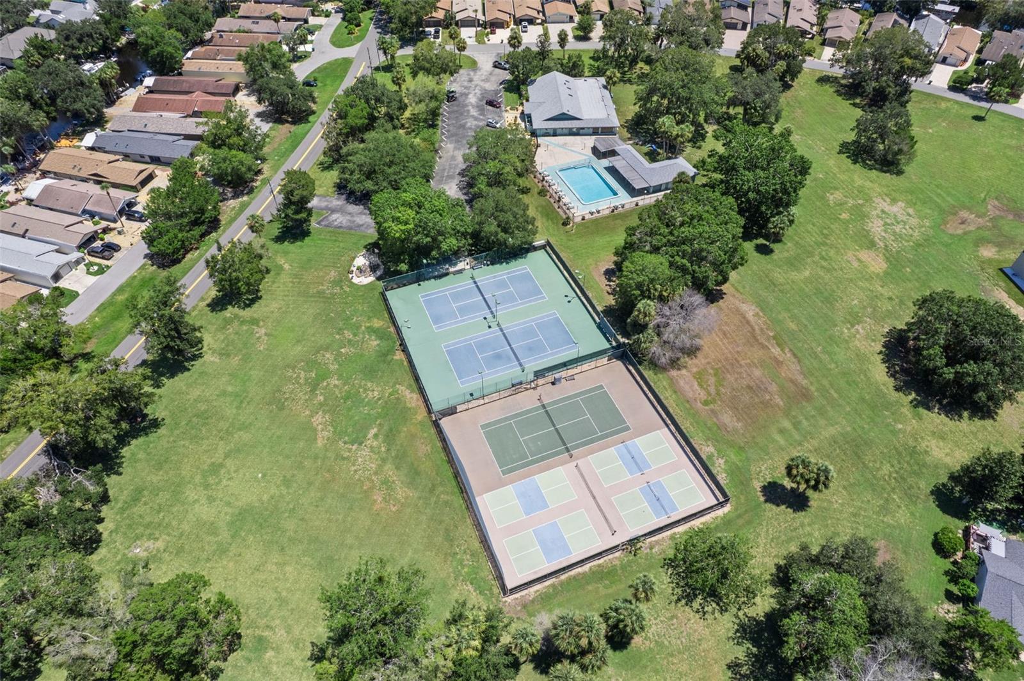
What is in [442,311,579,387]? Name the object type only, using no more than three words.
tennis court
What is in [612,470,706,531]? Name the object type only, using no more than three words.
sports court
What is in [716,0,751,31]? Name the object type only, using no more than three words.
house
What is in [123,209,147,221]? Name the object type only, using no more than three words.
vehicle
